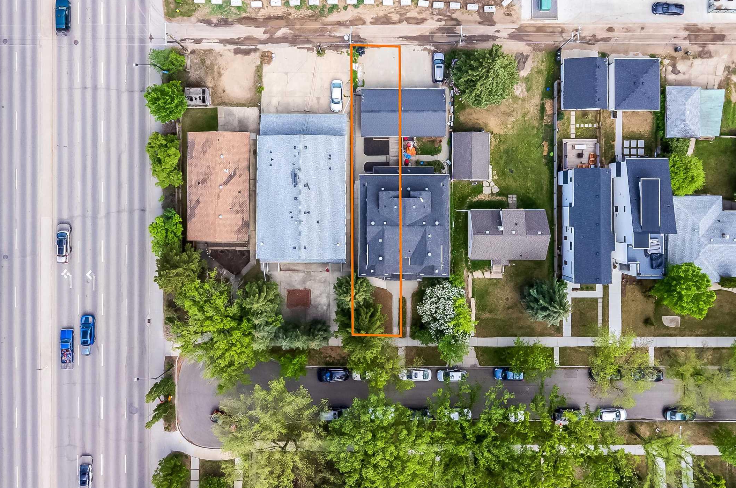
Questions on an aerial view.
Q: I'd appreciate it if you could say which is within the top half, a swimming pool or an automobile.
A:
automobile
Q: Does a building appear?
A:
Yes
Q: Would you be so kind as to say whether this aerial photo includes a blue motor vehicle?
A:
Yes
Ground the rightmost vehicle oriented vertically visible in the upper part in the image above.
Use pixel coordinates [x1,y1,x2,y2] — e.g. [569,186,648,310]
[431,52,447,85]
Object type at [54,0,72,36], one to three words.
car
